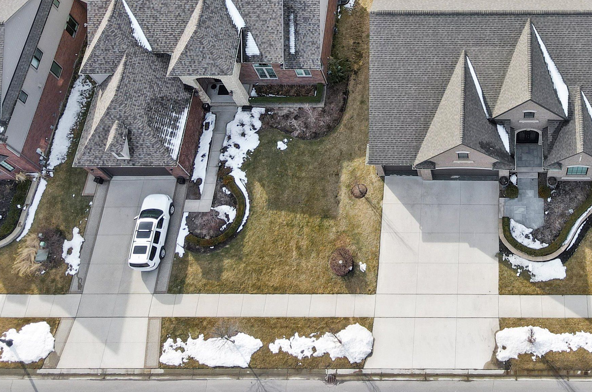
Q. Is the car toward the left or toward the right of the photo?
left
